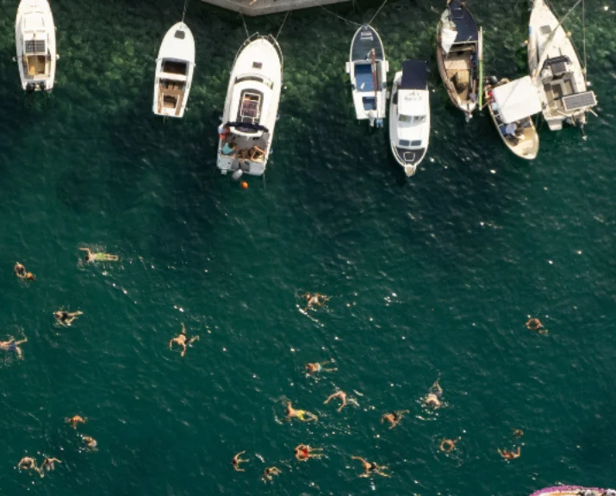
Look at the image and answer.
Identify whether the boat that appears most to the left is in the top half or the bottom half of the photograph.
top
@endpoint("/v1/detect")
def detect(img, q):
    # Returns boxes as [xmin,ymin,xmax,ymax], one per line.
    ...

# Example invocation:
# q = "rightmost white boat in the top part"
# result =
[527,0,598,139]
